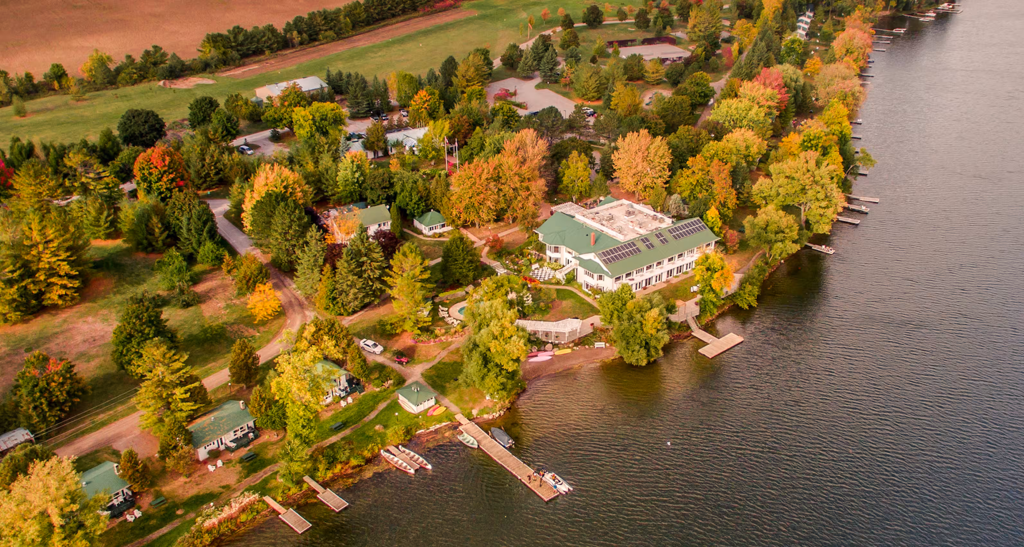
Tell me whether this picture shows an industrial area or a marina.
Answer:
marina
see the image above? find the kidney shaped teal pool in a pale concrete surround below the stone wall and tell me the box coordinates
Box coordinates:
[445,298,490,320]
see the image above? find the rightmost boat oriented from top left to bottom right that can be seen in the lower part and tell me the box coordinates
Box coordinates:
[543,466,575,494]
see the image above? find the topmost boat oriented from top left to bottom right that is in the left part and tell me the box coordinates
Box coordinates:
[395,401,418,415]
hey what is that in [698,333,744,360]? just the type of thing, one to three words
pier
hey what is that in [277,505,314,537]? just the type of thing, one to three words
pier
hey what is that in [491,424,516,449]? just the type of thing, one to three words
boat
